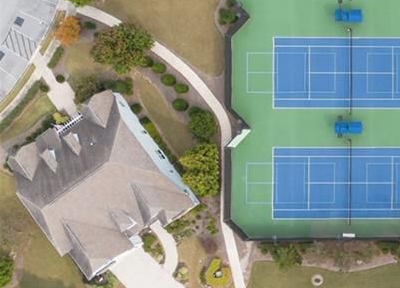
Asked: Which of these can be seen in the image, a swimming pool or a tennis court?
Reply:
tennis court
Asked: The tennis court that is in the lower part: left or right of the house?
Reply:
on its right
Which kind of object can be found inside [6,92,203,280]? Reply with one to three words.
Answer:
house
